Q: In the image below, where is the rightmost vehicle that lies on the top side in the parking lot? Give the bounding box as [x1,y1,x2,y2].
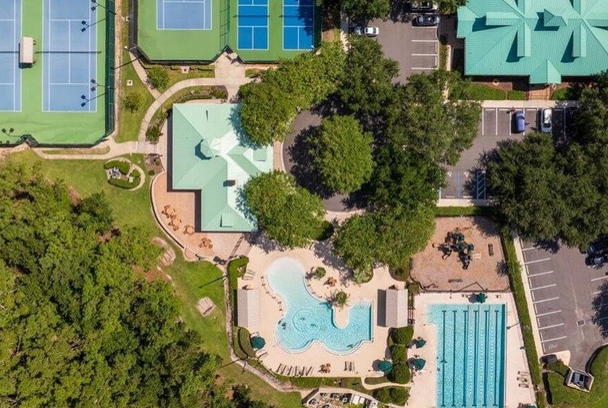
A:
[541,108,554,133]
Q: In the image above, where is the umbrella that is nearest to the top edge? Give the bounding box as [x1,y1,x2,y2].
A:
[473,290,487,304]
